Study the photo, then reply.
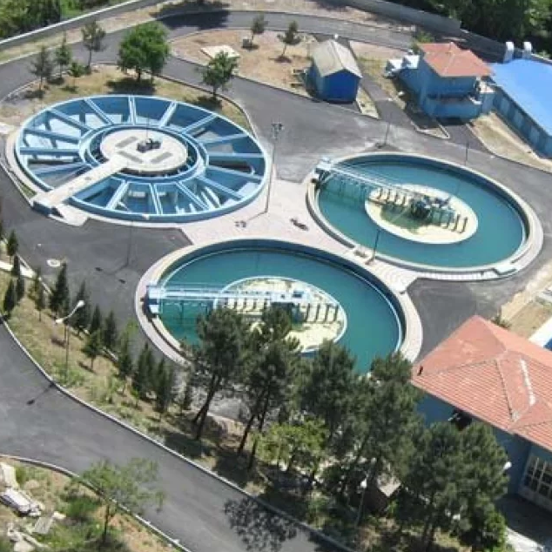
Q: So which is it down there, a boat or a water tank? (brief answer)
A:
water tank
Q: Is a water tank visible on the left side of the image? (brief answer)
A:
Yes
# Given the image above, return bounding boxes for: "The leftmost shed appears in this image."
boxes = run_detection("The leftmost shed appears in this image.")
[313,37,363,103]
